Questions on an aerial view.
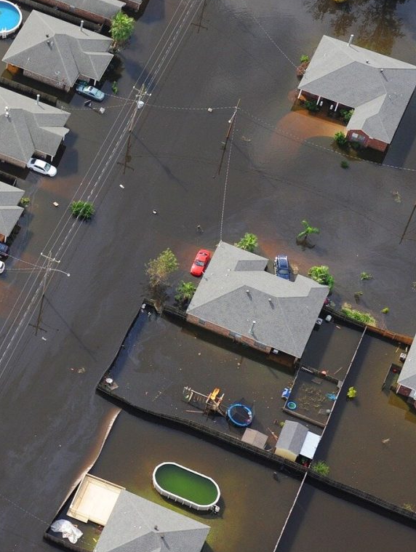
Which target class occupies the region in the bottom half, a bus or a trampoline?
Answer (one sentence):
It is a trampoline that can be seen in the bottom half.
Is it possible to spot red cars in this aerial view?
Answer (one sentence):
Yes, there's a red car here.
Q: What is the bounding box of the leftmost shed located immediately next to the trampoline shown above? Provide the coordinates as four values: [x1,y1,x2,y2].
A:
[242,428,267,452]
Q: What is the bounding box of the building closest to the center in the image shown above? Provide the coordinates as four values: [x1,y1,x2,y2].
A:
[186,241,330,366]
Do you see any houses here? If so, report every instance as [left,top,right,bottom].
[0,182,25,243]
[40,0,143,32]
[186,241,330,366]
[2,9,115,98]
[296,34,416,154]
[393,335,416,409]
[0,86,70,170]
[92,488,210,552]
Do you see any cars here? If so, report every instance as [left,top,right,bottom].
[191,250,210,277]
[25,159,58,178]
[74,85,106,102]
[0,242,13,259]
[275,253,292,279]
